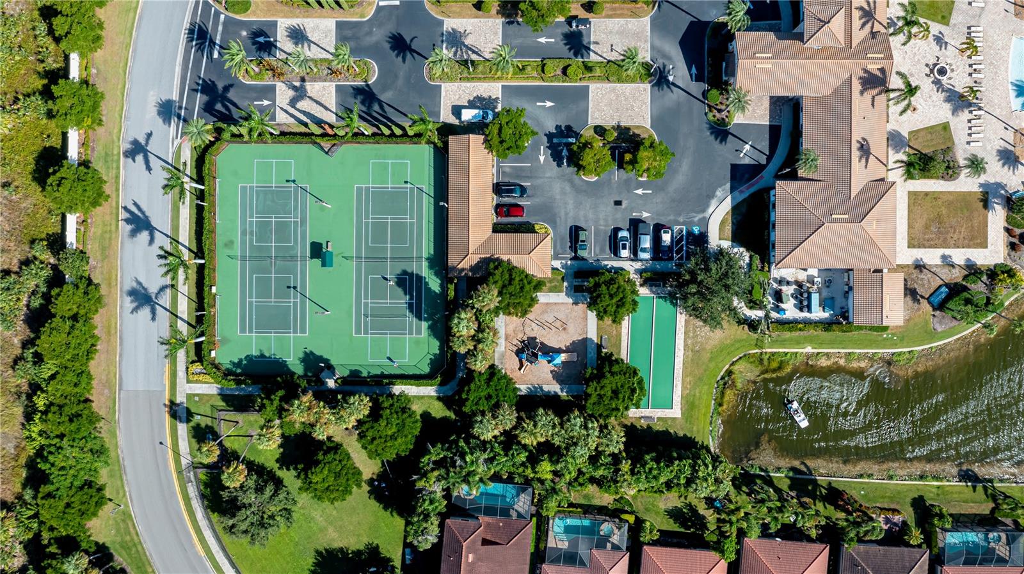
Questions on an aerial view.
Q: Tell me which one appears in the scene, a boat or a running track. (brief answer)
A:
boat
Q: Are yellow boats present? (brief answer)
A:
No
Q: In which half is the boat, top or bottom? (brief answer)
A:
bottom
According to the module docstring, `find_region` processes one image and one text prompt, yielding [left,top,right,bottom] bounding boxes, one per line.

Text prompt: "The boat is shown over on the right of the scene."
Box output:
[785,400,809,428]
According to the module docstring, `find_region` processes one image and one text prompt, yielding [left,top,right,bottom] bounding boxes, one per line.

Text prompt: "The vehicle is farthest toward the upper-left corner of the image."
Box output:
[461,106,492,122]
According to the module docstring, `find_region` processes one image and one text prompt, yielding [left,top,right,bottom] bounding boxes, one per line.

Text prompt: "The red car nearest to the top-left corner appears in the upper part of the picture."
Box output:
[496,203,524,217]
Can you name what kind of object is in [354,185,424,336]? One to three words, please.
tennis court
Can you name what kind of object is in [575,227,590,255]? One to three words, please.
car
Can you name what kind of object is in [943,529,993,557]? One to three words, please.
swimming pool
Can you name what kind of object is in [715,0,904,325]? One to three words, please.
building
